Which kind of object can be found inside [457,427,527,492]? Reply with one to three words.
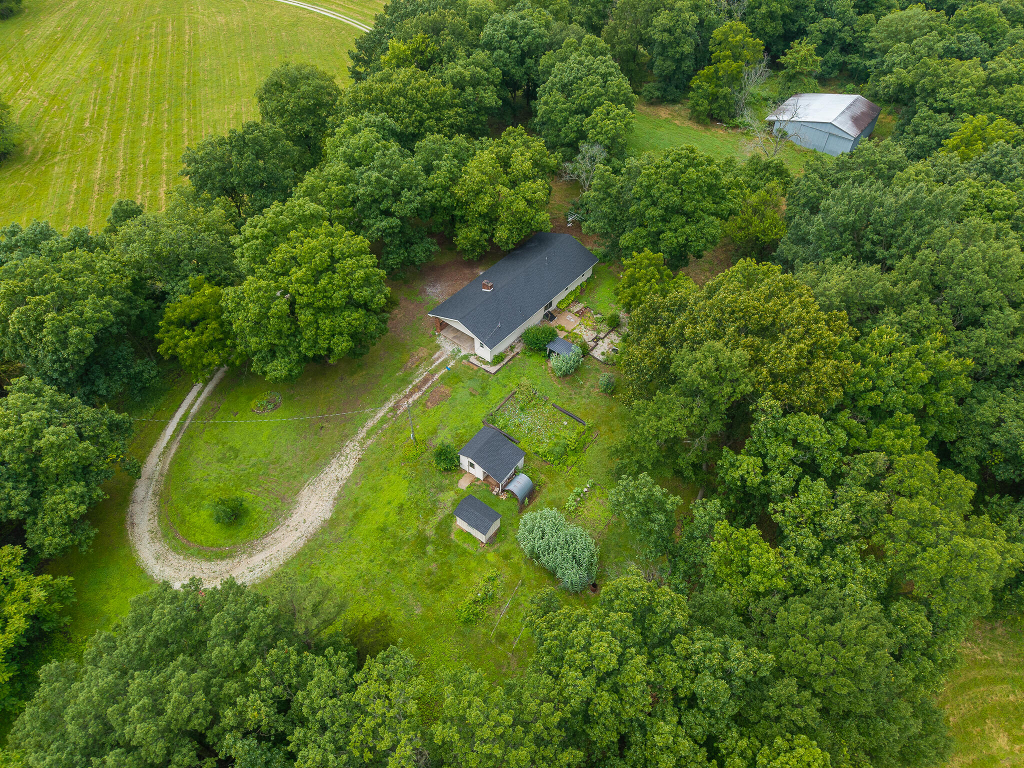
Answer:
shed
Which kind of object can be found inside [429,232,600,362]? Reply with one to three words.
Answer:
house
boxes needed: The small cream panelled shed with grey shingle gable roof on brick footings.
[453,496,502,544]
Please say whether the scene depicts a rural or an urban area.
rural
